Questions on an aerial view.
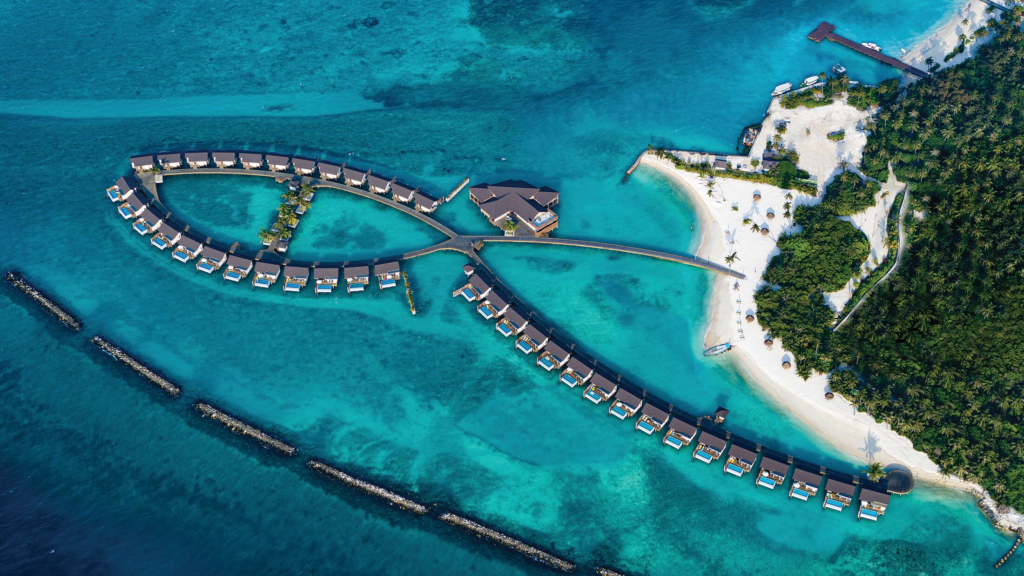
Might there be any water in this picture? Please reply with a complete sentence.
Yes, the picture does contain water.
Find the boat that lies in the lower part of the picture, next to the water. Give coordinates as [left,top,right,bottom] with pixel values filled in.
[704,342,732,354]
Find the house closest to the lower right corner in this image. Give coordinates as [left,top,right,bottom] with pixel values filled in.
[855,484,891,521]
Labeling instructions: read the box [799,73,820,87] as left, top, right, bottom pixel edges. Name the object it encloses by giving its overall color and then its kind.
white boat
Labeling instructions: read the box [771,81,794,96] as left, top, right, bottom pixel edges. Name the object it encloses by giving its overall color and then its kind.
white boat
